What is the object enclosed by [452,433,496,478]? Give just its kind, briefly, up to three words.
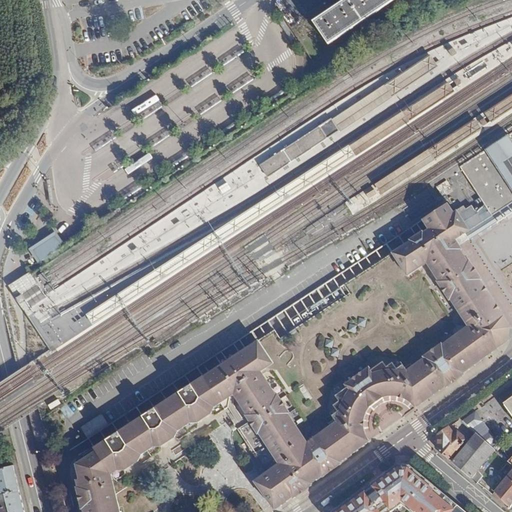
house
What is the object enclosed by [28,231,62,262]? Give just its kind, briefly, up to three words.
building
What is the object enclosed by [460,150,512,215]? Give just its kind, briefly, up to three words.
building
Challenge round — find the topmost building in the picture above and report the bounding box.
[311,0,396,44]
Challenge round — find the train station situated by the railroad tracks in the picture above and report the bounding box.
[8,16,512,352]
